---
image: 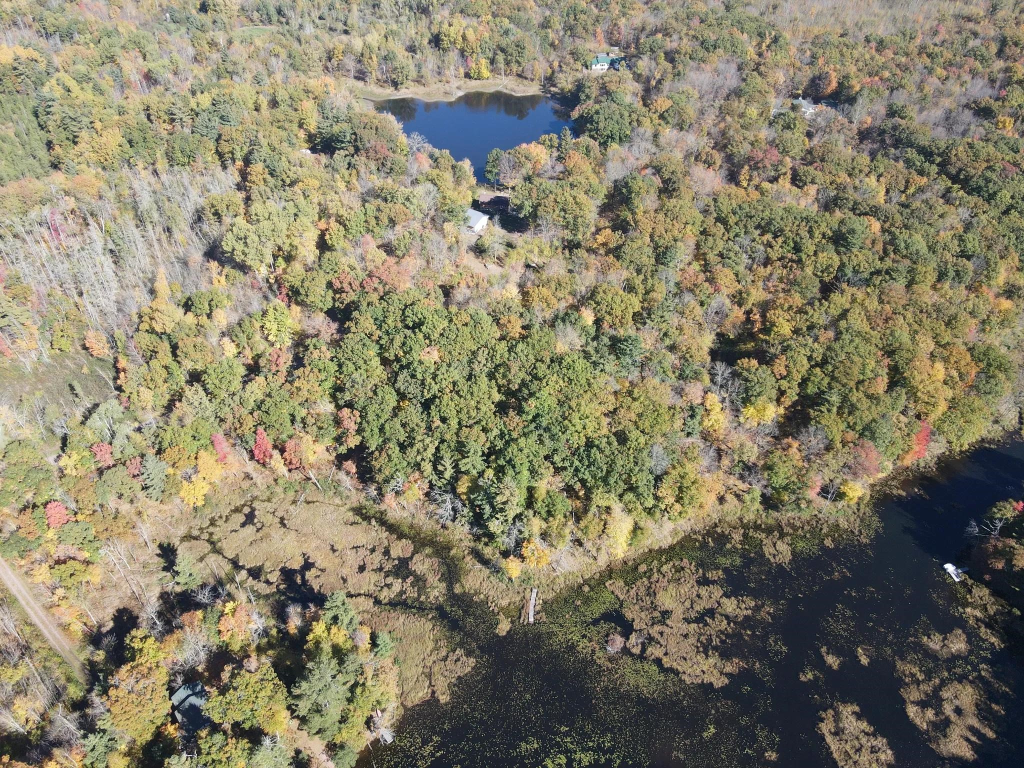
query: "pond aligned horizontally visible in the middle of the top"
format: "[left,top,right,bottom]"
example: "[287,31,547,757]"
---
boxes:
[368,91,578,183]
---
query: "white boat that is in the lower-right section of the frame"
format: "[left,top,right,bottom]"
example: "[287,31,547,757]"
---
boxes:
[942,564,961,583]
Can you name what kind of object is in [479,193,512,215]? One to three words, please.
building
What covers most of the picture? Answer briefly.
trees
